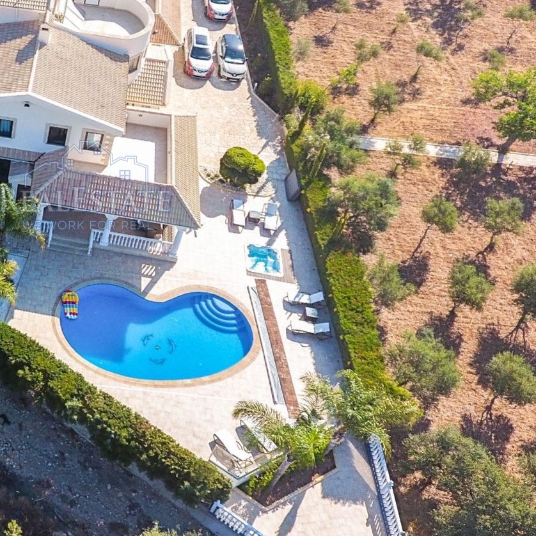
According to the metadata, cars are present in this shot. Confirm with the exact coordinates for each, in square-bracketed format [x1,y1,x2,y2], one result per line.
[177,32,216,80]
[211,37,249,85]
[198,0,234,23]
